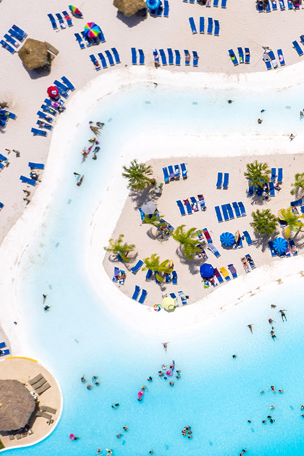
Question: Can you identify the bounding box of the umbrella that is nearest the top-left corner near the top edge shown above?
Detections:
[67,3,83,17]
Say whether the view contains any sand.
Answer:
Yes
